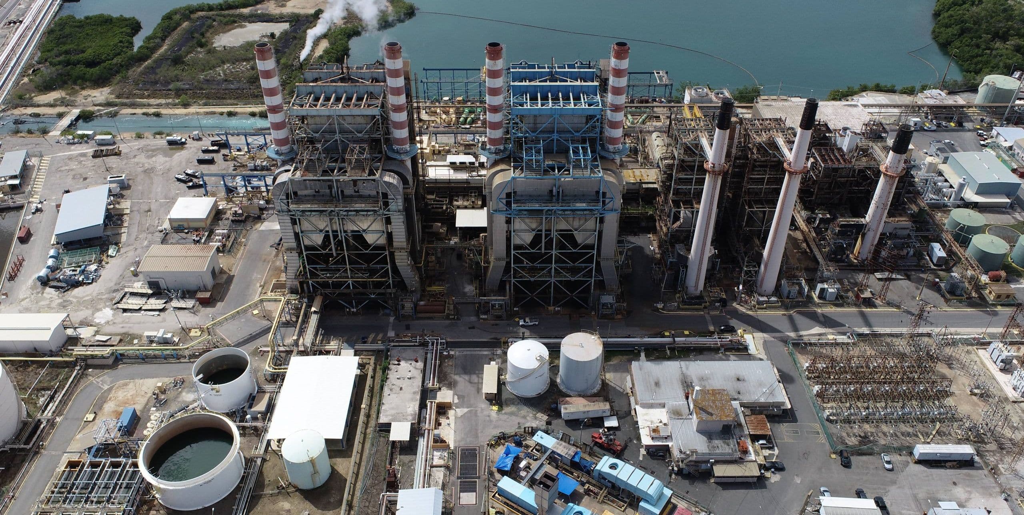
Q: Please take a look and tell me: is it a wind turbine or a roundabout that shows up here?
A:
wind turbine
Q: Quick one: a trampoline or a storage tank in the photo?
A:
storage tank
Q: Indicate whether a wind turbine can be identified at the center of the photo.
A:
No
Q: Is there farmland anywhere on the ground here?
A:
No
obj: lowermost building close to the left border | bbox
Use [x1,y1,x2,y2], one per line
[0,313,86,352]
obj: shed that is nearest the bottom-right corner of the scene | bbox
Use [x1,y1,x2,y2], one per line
[985,284,1017,302]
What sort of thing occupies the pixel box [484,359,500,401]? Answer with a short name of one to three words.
building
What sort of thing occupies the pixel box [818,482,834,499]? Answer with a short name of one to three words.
car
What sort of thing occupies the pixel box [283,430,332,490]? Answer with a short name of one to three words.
storage tank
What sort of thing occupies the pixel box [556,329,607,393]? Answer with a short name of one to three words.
storage tank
